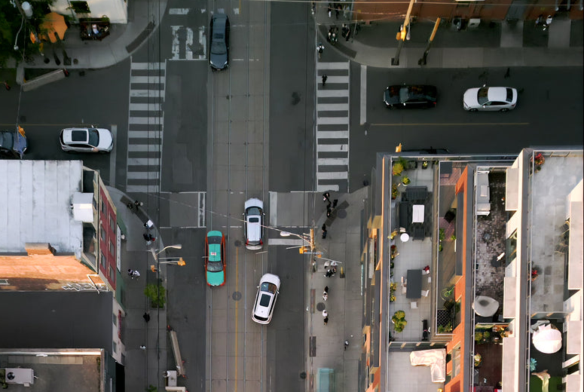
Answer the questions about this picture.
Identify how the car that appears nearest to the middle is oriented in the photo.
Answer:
from top to bottom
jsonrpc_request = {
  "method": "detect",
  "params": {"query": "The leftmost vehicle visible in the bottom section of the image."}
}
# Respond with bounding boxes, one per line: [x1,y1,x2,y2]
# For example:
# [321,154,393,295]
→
[203,231,228,290]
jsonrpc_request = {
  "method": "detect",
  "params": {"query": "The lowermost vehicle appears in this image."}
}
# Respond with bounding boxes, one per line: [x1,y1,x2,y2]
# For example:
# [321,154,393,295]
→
[252,274,280,326]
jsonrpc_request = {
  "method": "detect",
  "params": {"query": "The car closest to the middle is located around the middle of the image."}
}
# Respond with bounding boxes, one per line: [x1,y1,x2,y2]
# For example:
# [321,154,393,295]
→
[241,200,265,252]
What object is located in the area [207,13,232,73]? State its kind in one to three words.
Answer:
car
